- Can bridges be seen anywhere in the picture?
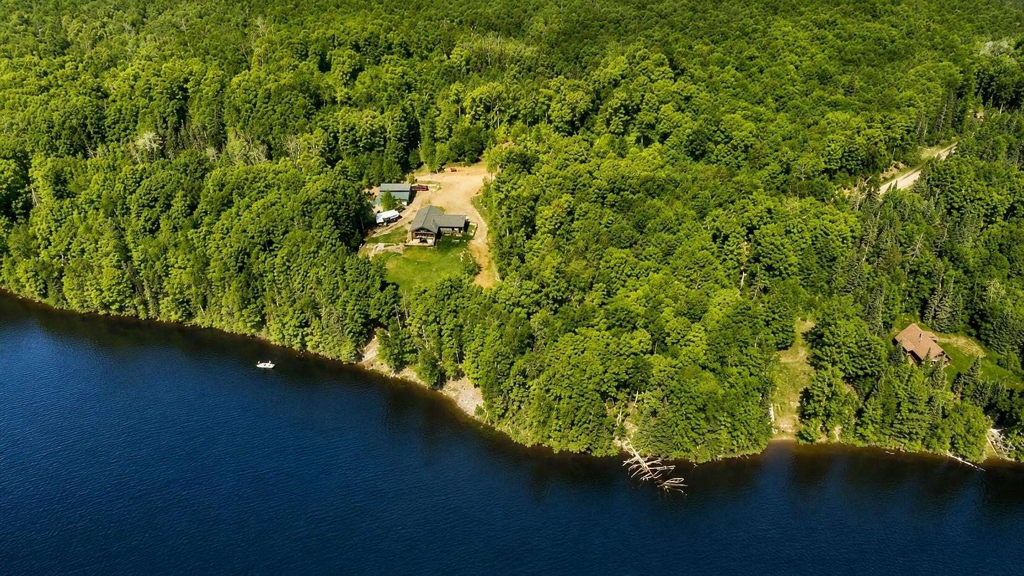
No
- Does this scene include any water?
Yes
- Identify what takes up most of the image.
trees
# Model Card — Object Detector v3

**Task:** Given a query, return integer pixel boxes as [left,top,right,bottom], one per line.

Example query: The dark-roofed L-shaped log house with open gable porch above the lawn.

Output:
[409,207,469,243]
